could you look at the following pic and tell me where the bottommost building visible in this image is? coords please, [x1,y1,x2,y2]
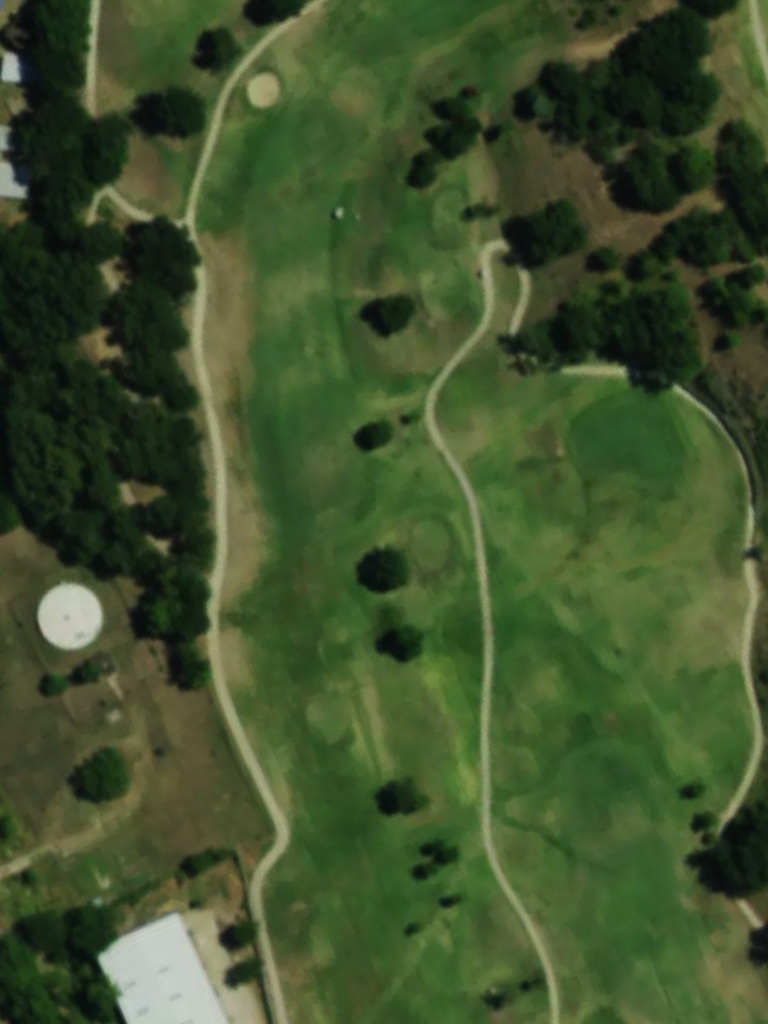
[95,914,231,1024]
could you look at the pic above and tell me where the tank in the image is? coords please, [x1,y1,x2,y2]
[37,583,103,648]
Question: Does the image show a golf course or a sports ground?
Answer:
golf course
